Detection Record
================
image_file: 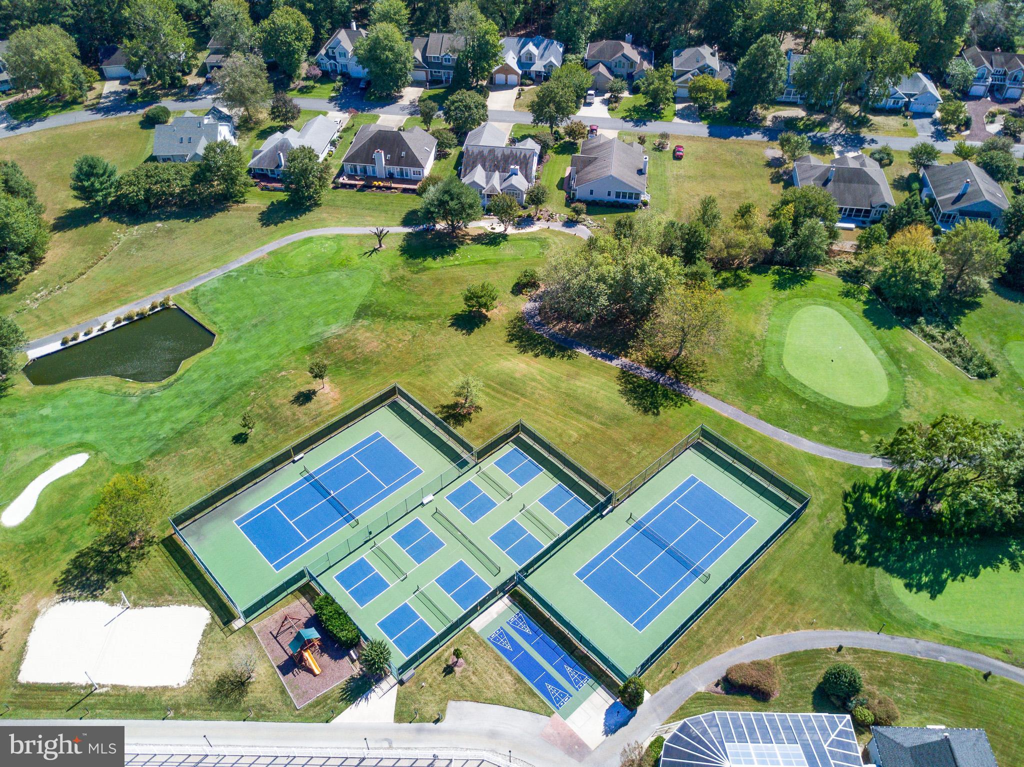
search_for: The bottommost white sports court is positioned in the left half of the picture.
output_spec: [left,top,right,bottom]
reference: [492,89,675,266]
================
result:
[18,590,209,689]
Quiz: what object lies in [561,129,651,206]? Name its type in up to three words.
house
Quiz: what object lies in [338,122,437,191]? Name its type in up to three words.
house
